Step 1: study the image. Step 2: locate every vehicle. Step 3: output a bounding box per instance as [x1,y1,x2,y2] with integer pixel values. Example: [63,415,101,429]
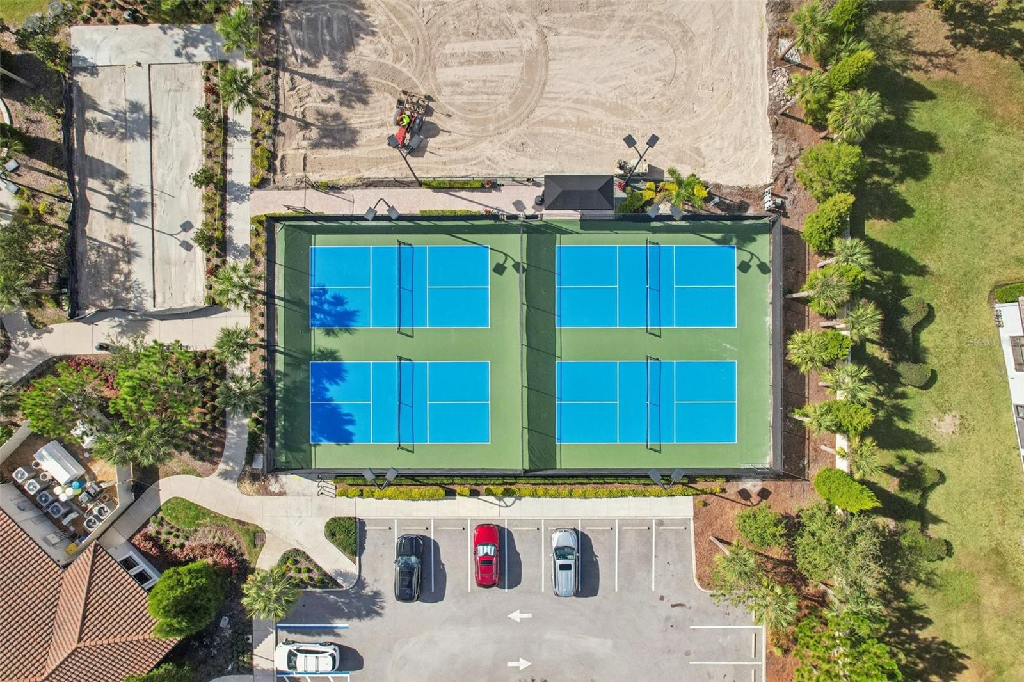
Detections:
[393,84,431,111]
[471,522,503,587]
[392,532,425,603]
[275,640,340,676]
[388,100,422,149]
[549,527,582,596]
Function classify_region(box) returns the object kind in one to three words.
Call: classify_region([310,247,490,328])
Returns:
sports court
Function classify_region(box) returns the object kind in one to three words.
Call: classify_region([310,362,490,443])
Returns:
sports court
